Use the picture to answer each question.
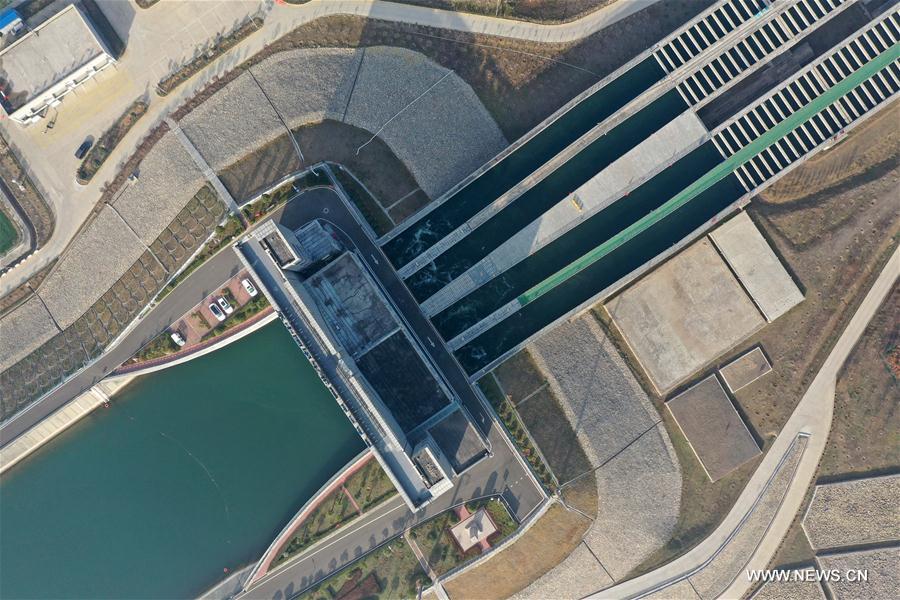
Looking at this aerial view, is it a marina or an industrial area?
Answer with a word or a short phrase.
industrial area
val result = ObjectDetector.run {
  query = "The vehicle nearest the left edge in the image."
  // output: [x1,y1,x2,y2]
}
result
[76,141,92,159]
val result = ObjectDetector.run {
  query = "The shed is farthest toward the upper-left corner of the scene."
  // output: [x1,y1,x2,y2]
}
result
[0,10,28,44]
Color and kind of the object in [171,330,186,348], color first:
white car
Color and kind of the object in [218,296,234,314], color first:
white car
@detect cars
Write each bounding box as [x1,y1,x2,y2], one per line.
[209,303,225,322]
[242,278,258,297]
[171,330,186,348]
[218,296,234,314]
[76,141,92,159]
